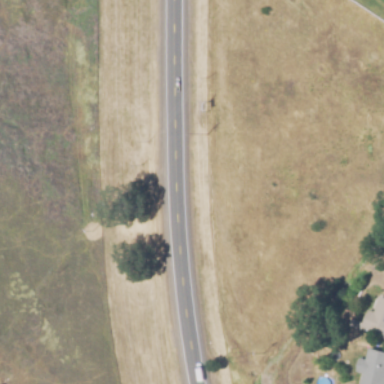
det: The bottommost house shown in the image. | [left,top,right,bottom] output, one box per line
[352,350,384,384]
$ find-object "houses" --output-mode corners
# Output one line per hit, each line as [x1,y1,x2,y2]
[352,350,384,384]
[360,292,384,346]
